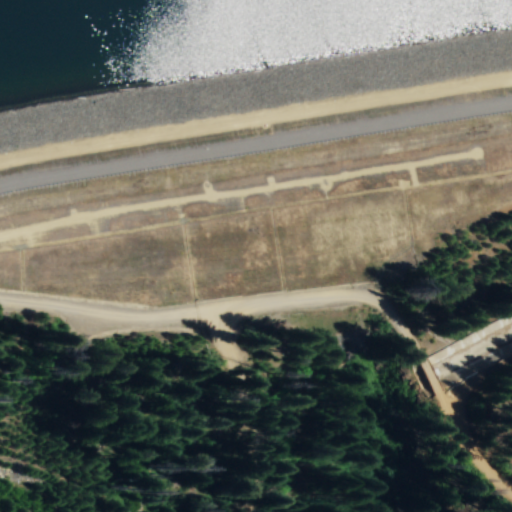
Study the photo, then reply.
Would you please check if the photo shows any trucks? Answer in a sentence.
No, there's no truck here.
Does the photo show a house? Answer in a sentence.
No, the frame has no house in it.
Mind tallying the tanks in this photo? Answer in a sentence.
No tanks are visible.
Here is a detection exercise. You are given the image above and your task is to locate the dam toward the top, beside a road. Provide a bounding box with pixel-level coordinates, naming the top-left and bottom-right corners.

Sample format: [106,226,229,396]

[0,28,512,305]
